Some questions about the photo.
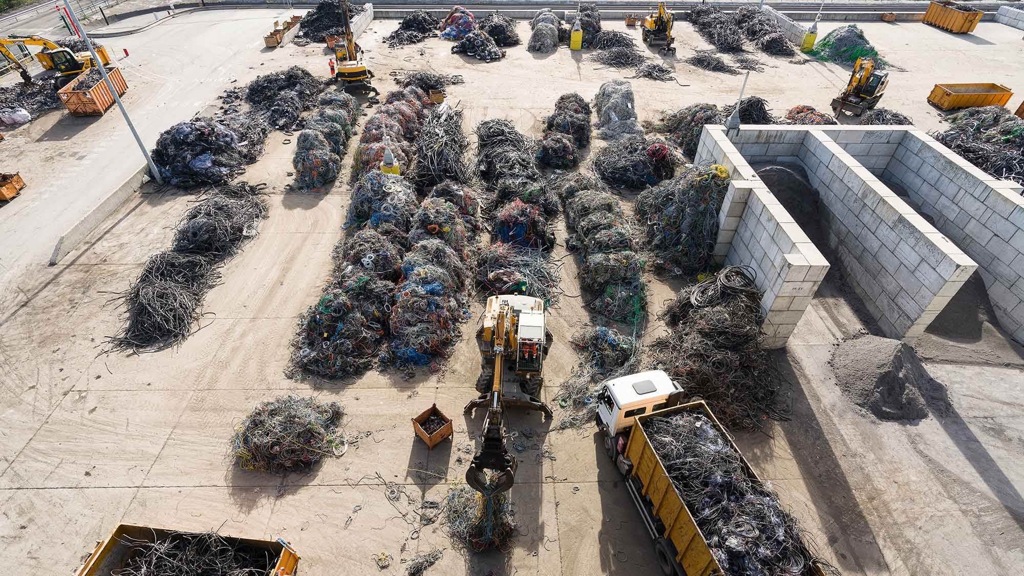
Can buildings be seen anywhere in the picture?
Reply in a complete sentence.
No, there's no building here.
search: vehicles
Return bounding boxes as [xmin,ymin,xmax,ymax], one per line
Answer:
[838,46,904,116]
[333,0,379,92]
[637,0,681,46]
[590,362,840,576]
[458,293,558,486]
[0,27,110,83]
